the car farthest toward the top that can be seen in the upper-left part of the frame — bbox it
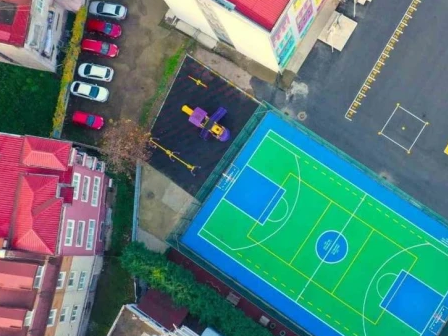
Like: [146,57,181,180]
[90,0,129,22]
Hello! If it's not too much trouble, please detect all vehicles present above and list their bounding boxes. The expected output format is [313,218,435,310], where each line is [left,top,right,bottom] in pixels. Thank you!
[81,38,121,59]
[71,110,107,132]
[87,20,124,41]
[71,80,111,103]
[77,63,116,83]
[90,0,129,22]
